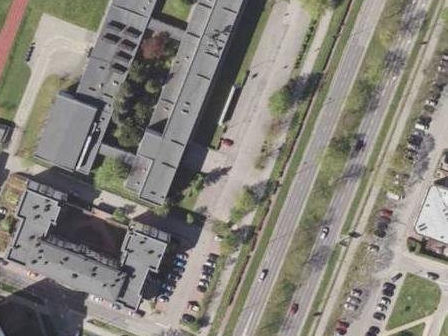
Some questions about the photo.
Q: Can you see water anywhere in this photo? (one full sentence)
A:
No, there's no water in this view.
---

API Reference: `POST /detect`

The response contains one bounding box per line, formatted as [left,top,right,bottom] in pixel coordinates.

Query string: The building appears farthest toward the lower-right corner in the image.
[411,181,448,247]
